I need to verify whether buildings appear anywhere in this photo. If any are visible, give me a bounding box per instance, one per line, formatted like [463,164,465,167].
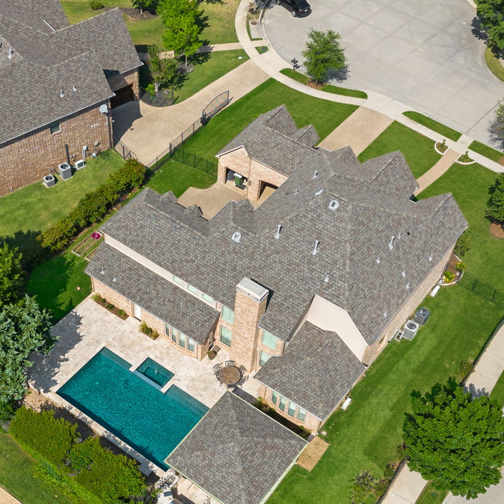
[163,391,310,504]
[84,104,469,437]
[0,0,144,194]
